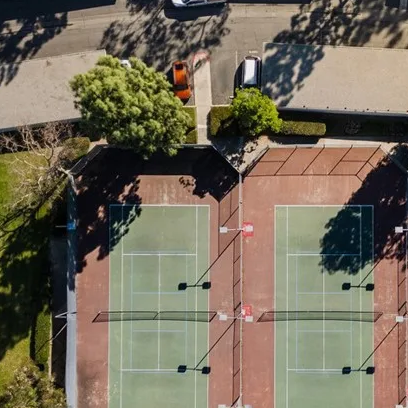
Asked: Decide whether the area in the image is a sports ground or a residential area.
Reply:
sports ground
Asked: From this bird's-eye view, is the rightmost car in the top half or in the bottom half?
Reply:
top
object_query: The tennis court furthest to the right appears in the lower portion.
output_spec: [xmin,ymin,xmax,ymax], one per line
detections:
[245,150,407,408]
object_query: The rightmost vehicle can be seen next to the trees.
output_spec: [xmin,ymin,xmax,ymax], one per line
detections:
[240,55,261,95]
